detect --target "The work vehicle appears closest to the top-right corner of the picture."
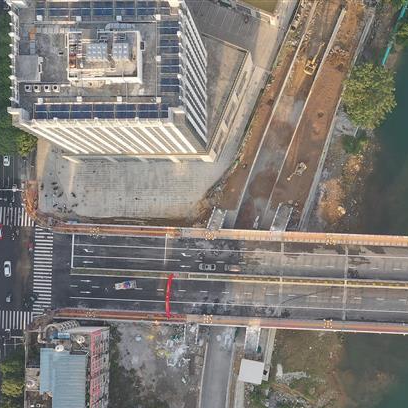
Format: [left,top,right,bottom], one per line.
[303,47,321,73]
